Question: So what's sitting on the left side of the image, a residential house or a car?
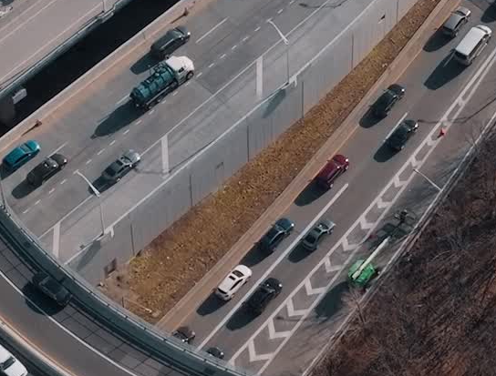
car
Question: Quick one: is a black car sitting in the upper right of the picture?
Yes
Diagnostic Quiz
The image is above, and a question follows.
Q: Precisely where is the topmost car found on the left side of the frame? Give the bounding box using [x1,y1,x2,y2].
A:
[148,25,190,59]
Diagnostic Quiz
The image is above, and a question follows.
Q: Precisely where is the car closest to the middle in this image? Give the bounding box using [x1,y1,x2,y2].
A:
[258,216,296,254]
